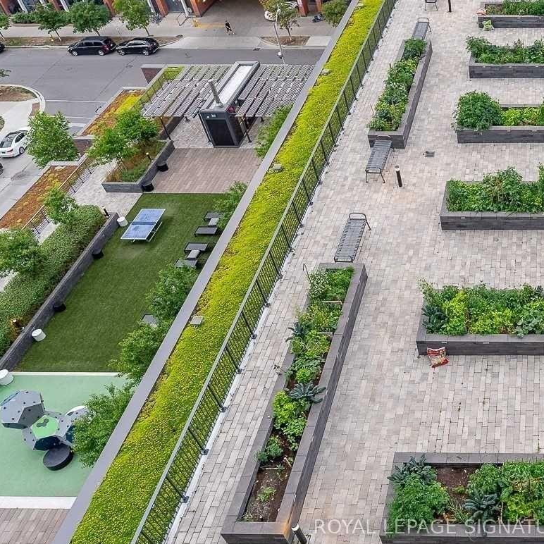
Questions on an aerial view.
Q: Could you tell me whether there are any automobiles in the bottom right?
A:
No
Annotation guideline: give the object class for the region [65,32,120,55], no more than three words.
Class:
car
